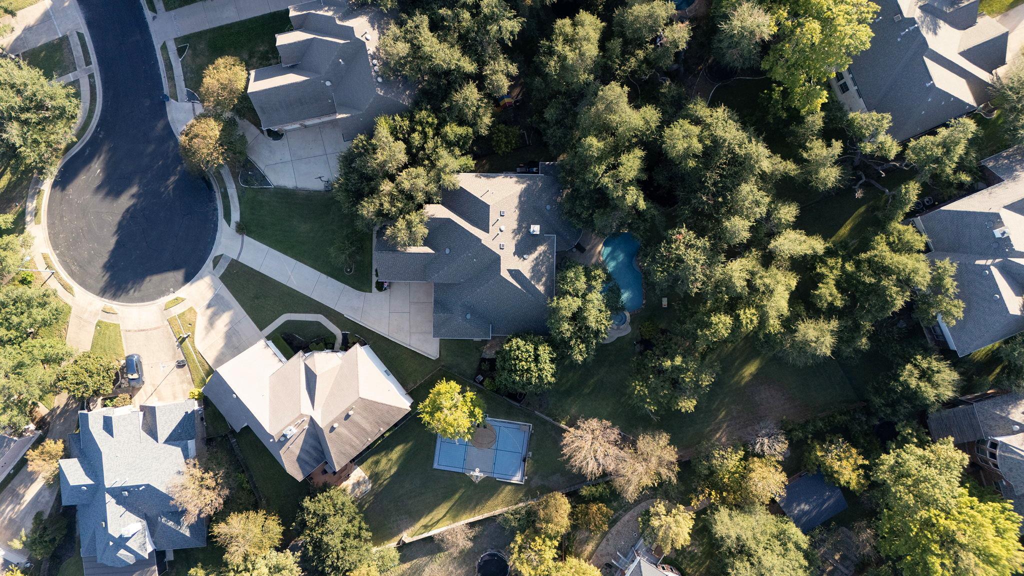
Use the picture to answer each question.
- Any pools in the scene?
Yes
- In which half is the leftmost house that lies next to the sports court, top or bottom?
bottom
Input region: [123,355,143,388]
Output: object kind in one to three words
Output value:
car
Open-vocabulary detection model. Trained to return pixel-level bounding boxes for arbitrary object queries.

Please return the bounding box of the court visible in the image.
[433,416,532,484]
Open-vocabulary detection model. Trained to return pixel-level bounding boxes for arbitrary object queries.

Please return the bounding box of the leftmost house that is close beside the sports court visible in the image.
[202,338,417,482]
